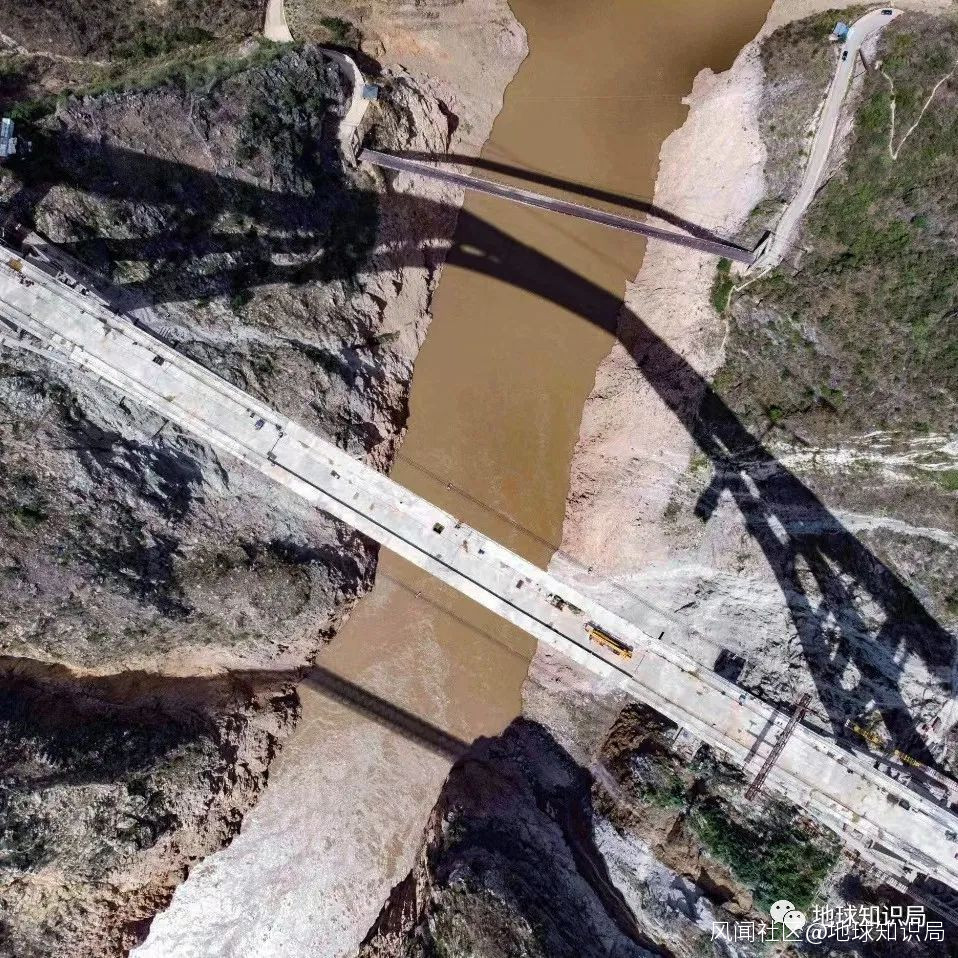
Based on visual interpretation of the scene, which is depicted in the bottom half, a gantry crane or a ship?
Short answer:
gantry crane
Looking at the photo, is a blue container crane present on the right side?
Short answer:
No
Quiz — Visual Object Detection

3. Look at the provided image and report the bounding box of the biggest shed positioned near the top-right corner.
[827,16,854,45]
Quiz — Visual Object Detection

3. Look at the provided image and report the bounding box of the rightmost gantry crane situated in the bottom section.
[739,696,814,799]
